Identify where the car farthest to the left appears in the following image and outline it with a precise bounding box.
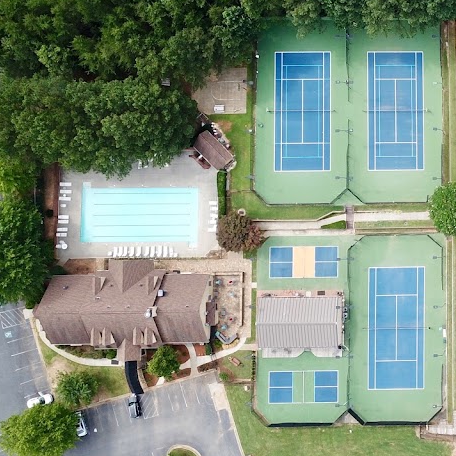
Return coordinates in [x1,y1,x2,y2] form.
[28,390,54,407]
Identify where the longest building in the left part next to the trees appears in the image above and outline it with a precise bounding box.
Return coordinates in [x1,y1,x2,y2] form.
[35,259,223,363]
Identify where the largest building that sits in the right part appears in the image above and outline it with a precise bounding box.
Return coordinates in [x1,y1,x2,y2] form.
[253,288,347,357]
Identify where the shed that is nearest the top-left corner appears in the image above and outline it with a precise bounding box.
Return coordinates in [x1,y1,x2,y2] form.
[193,130,235,170]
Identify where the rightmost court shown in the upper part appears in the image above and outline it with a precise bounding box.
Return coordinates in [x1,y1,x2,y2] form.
[348,16,442,202]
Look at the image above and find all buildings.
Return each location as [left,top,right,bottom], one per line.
[35,259,223,363]
[193,130,235,170]
[253,288,347,357]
